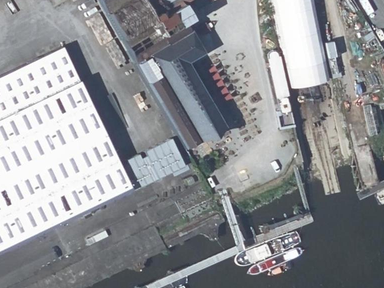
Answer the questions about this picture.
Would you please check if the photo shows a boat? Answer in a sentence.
Yes, looking at the shot, I can spot a boat.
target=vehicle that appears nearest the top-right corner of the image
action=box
[360,0,374,18]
